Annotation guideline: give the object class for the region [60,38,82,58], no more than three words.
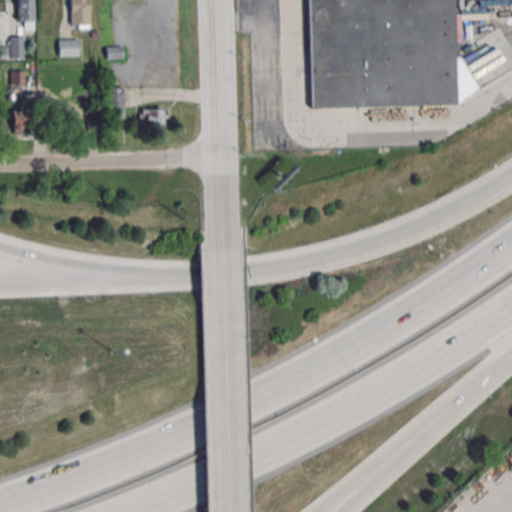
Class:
building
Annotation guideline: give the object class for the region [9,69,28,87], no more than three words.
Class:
house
